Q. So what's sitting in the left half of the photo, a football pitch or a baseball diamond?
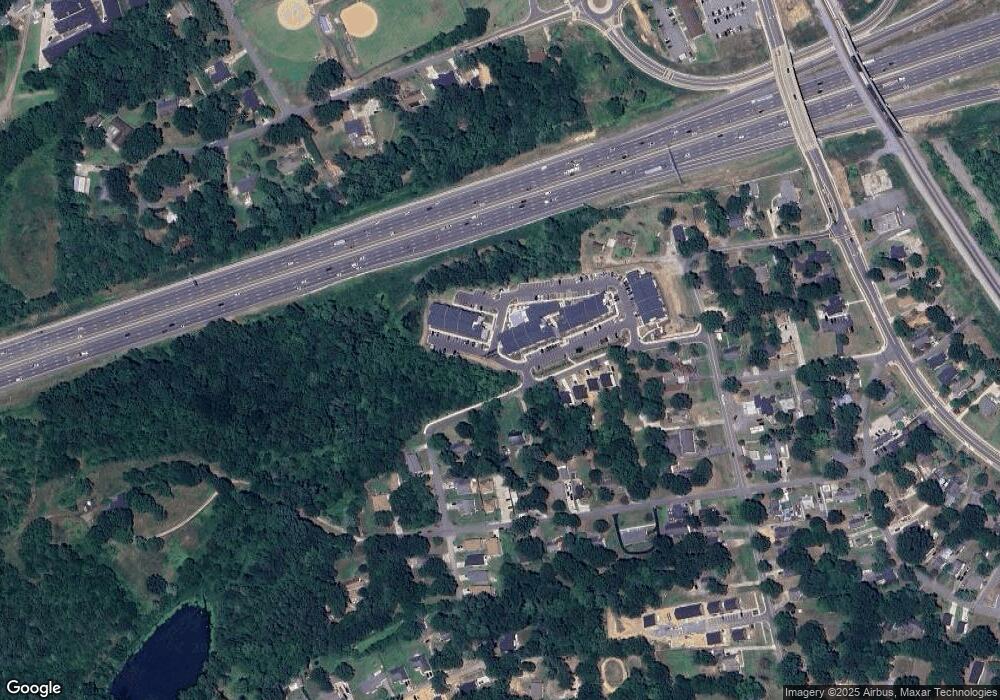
baseball diamond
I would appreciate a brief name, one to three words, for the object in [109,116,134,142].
house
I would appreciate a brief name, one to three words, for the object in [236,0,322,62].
baseball field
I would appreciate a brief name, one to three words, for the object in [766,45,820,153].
overpass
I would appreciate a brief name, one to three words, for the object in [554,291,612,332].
building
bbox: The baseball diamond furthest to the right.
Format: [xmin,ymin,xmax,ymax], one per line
[341,0,466,76]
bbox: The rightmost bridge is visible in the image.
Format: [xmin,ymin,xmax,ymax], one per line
[827,22,909,149]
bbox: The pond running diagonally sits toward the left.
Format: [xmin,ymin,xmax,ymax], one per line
[109,604,212,700]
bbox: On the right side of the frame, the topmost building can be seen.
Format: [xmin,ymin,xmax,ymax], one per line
[675,0,705,38]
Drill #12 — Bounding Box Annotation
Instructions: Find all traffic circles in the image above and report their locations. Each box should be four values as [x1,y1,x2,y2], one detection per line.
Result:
[578,0,622,22]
